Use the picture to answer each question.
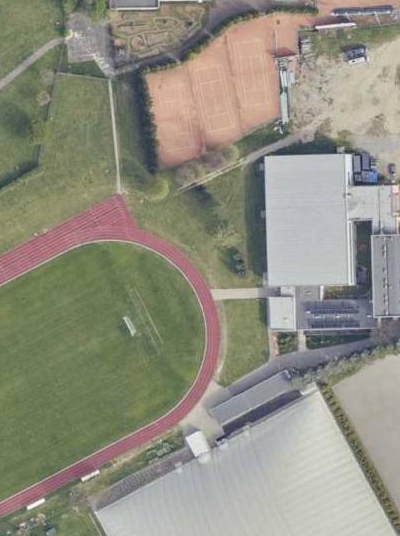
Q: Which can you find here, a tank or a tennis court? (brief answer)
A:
tennis court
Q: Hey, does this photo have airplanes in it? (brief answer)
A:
No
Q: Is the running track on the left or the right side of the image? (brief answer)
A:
left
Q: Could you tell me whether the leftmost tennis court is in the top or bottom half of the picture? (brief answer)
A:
top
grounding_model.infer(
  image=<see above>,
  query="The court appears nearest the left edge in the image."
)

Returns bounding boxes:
[155,79,199,156]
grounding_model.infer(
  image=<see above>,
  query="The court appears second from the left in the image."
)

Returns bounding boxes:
[189,61,235,138]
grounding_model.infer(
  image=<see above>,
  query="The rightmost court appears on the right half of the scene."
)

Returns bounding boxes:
[229,36,276,110]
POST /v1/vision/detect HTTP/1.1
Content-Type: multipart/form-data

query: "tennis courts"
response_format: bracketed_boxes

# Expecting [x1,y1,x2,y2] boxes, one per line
[229,36,276,110]
[155,79,199,156]
[189,61,235,138]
